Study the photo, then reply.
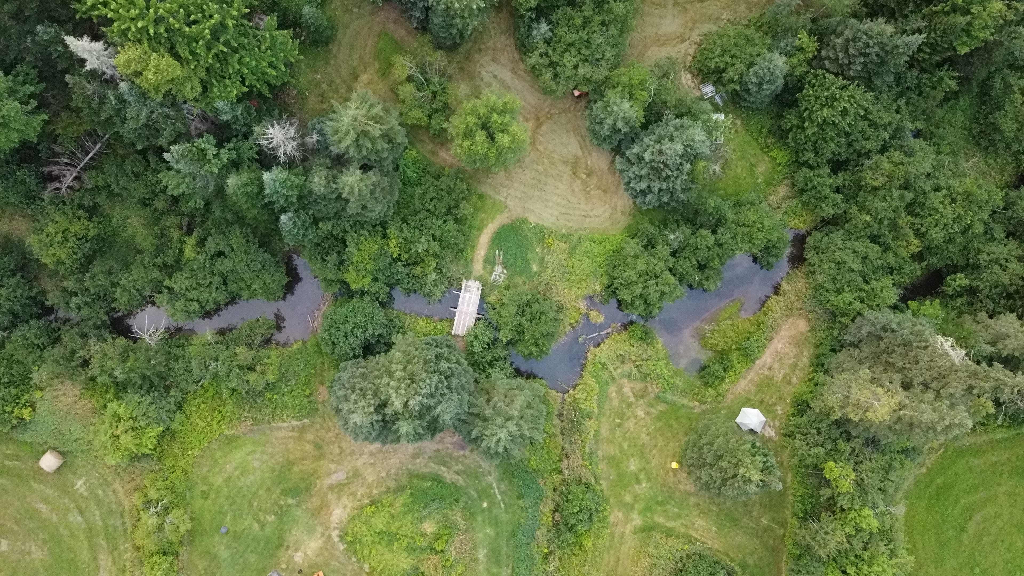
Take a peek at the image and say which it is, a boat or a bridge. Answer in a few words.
bridge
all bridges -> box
[448,277,485,340]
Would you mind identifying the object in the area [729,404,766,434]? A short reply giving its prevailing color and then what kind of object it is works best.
white tent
